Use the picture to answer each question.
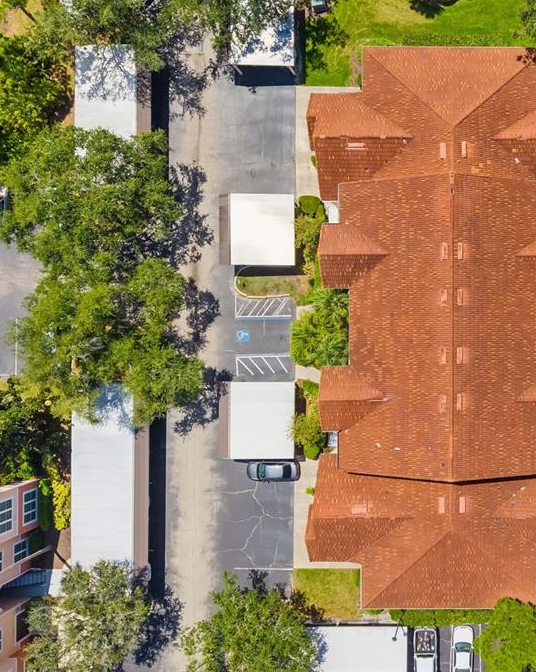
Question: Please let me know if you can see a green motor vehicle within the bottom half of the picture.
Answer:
No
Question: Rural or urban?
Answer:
urban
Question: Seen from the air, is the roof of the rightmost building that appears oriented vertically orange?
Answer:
Yes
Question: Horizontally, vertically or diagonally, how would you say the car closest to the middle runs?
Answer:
horizontally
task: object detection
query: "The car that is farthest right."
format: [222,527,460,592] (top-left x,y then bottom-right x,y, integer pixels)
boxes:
[451,624,473,672]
